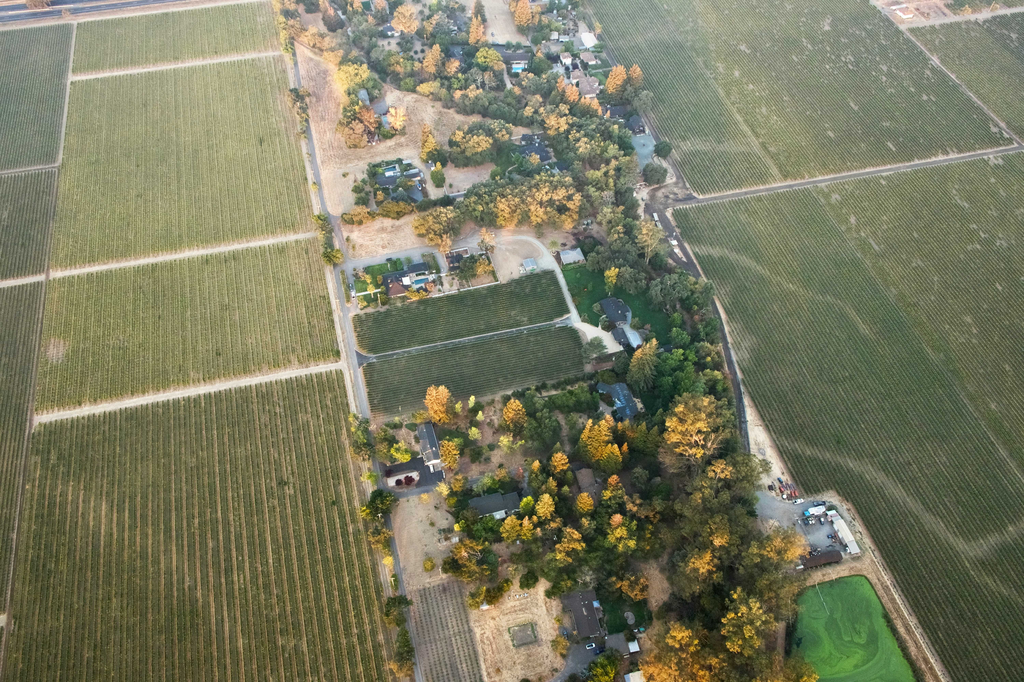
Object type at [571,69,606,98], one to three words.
house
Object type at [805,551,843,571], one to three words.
barn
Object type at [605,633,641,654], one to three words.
building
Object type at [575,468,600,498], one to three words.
house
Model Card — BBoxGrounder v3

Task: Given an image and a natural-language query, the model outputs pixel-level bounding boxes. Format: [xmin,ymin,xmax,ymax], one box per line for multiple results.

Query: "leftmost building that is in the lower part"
[416,424,440,467]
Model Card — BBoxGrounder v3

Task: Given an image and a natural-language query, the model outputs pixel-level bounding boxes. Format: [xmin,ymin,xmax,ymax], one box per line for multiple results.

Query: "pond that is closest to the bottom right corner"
[791,576,914,682]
